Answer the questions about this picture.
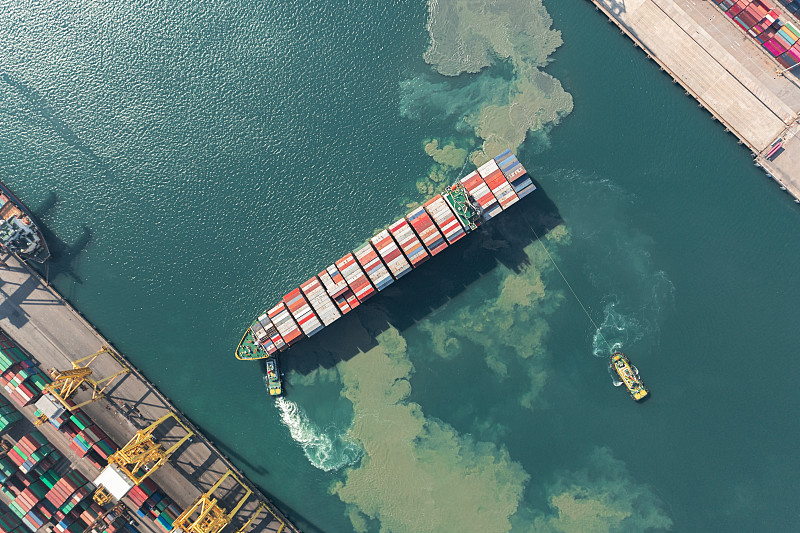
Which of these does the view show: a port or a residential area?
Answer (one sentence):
The area seen from above is a port.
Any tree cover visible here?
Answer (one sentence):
No, there's no tree cover in this view.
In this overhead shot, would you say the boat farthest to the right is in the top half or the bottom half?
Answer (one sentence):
The bottom half of the photo is where the boat farthest to the right is.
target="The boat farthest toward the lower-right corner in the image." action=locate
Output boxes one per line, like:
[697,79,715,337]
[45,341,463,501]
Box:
[614,352,649,402]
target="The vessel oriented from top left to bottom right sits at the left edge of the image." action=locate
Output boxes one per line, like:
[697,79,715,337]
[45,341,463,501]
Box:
[0,176,60,264]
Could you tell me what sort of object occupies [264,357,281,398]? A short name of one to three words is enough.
boat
